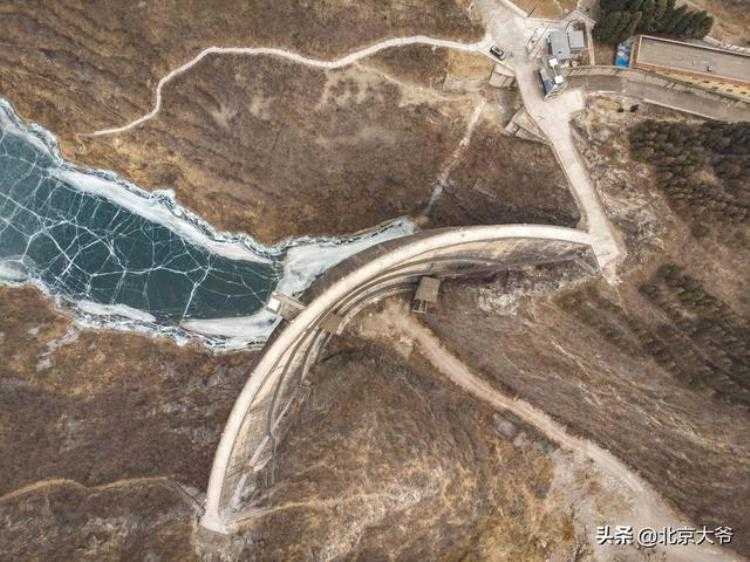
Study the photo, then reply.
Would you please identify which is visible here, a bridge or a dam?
dam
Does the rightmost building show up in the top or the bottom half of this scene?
top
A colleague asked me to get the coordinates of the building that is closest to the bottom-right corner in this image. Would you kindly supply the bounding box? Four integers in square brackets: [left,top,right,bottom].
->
[412,279,440,311]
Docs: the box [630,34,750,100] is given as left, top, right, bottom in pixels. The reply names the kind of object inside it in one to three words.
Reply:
building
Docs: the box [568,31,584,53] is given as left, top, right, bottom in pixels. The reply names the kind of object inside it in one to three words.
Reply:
house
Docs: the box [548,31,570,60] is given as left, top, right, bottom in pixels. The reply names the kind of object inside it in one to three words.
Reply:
house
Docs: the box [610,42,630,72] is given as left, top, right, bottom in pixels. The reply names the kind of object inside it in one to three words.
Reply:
shed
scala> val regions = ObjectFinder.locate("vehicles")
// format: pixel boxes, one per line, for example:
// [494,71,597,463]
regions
[489,44,506,59]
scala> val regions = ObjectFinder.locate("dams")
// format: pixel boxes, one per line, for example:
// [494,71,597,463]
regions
[201,223,590,533]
